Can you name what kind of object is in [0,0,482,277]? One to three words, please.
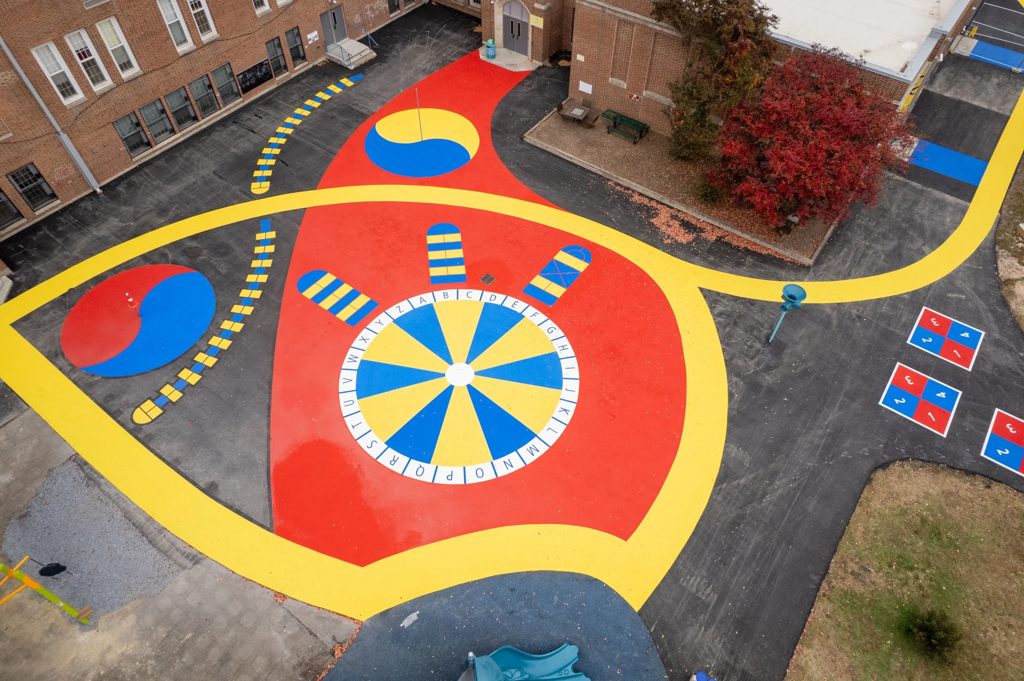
building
